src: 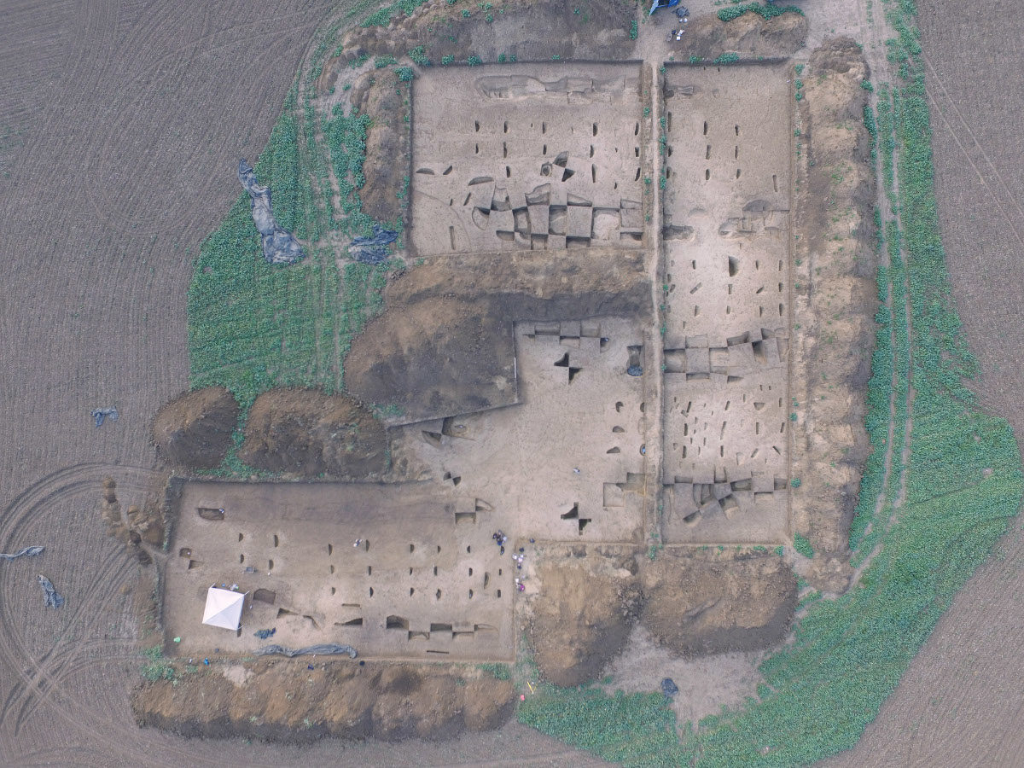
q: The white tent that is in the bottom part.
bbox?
[203,583,250,630]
